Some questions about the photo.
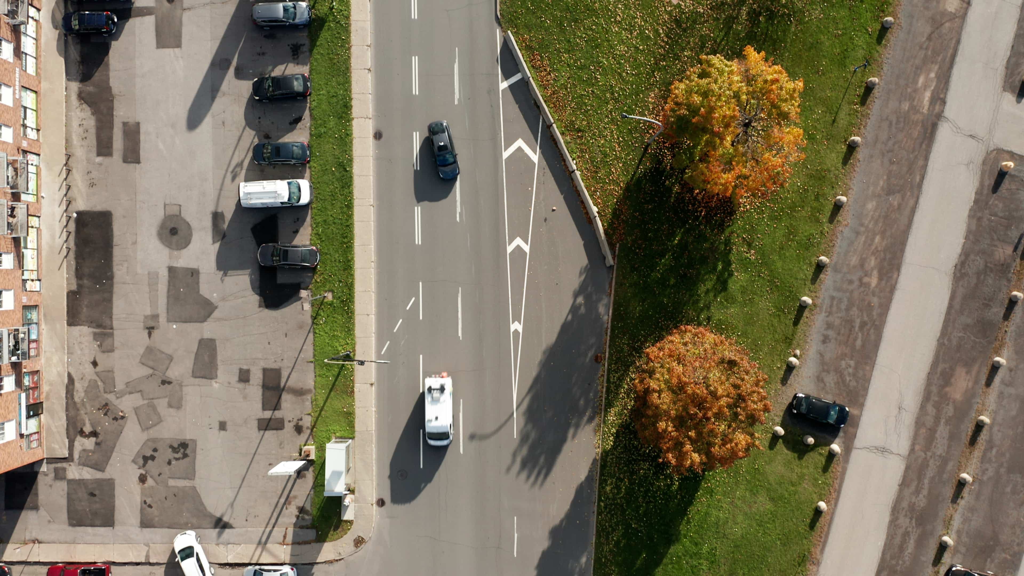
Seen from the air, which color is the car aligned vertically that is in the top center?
black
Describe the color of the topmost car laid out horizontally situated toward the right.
black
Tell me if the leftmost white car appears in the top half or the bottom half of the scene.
bottom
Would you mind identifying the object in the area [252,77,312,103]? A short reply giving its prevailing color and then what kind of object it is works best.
black car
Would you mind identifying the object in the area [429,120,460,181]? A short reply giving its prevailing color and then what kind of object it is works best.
black car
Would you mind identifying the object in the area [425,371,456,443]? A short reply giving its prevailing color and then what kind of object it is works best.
white van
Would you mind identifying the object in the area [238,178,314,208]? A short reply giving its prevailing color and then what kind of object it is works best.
white van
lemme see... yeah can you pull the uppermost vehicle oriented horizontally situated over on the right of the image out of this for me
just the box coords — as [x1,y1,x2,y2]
[787,391,849,424]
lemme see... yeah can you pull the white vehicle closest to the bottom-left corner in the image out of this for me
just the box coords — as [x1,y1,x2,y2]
[177,530,215,576]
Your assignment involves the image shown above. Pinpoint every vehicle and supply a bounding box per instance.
[787,391,849,424]
[252,2,312,31]
[60,8,116,36]
[252,77,312,103]
[177,530,215,576]
[238,178,314,208]
[258,243,321,268]
[948,567,987,576]
[253,141,312,166]
[429,120,460,181]
[44,564,110,576]
[425,371,456,443]
[243,566,298,576]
